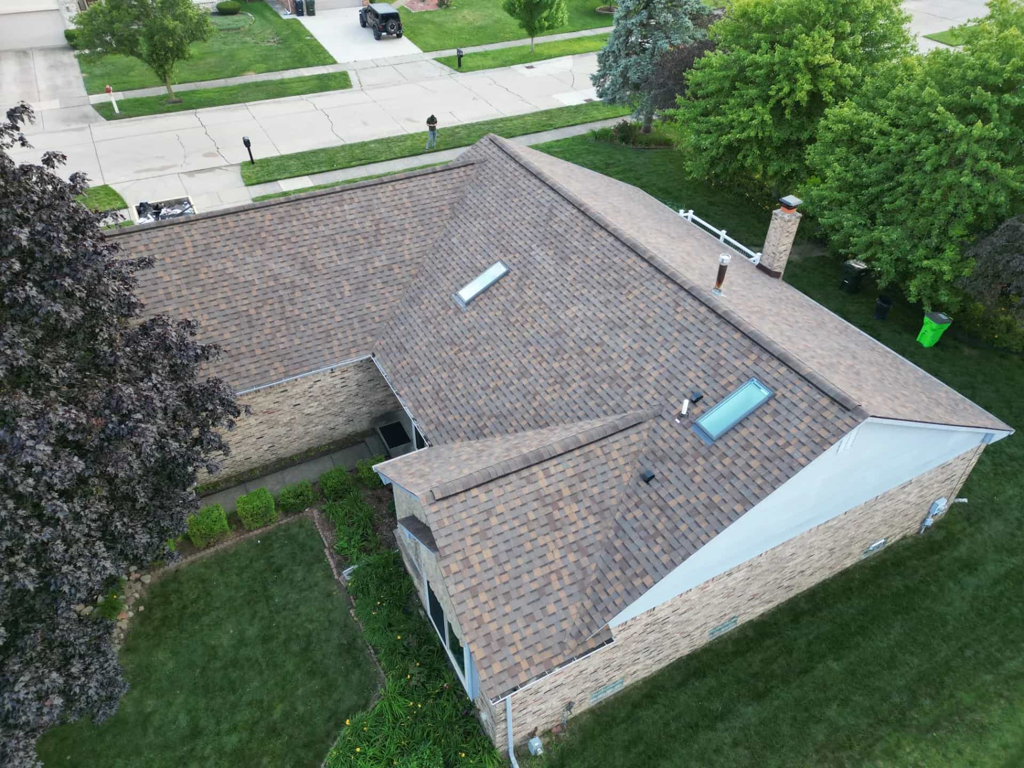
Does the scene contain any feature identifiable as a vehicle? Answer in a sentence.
Yes, the picture does show a vehicle.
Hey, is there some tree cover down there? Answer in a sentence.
Yes, some tree cover is visible.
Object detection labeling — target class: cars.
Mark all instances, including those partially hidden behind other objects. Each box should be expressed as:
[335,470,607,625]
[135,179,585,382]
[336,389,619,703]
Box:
[359,3,400,37]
